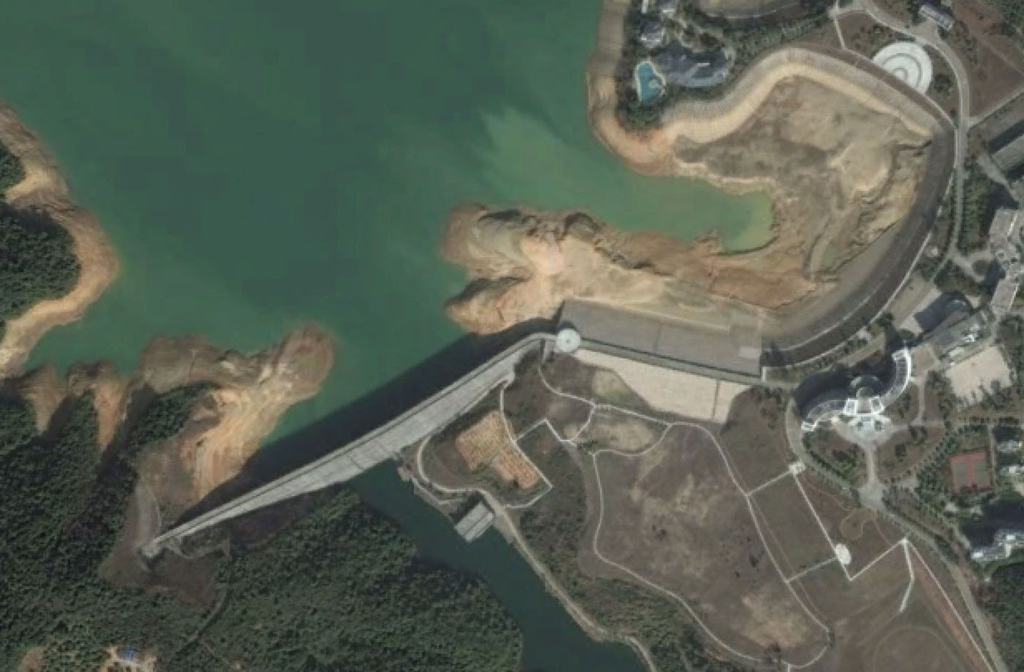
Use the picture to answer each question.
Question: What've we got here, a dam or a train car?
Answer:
dam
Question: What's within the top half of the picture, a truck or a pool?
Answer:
pool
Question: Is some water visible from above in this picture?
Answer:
Yes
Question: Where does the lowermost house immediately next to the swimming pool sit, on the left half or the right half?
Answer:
right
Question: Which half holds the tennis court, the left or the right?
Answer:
right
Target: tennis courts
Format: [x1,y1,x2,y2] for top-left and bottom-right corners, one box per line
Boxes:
[949,452,991,491]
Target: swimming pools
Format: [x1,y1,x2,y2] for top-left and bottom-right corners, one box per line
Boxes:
[636,59,665,103]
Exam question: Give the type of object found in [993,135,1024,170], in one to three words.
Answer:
building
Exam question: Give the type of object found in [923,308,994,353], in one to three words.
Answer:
building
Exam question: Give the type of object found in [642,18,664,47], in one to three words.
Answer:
house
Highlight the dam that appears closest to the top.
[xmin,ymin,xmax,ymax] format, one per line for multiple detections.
[566,297,765,423]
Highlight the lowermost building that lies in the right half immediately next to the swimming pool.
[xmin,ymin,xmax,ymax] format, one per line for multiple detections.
[654,42,729,89]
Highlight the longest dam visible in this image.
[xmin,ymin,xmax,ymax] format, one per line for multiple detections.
[151,333,557,548]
